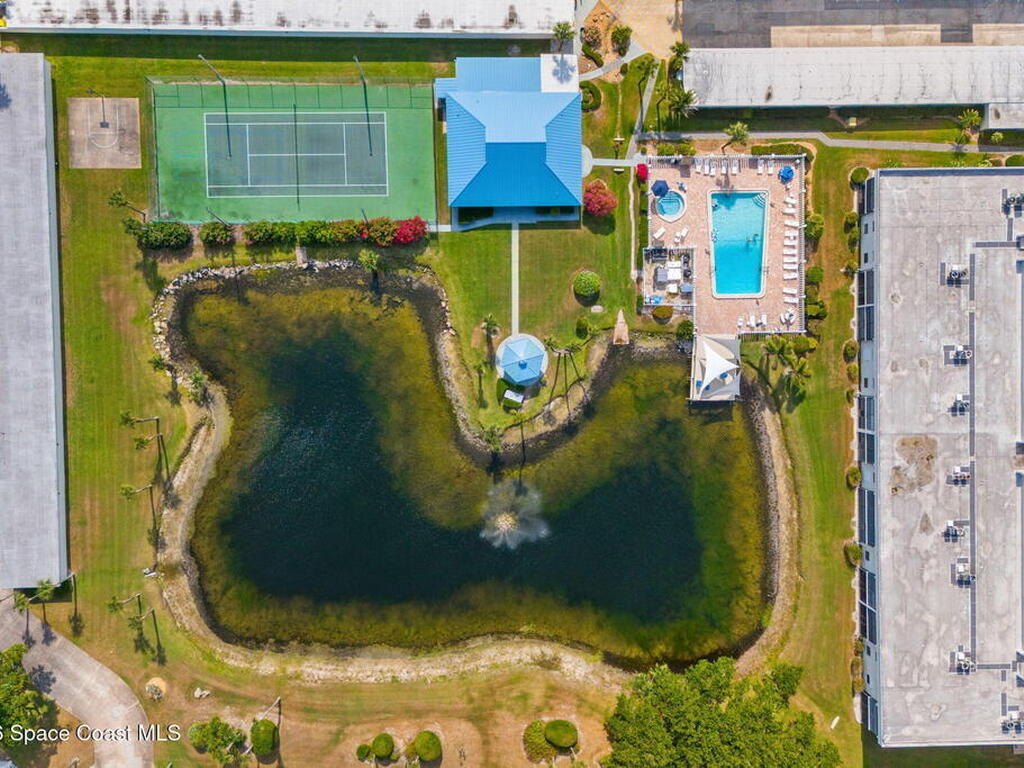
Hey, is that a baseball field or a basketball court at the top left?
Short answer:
basketball court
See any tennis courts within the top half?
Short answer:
Yes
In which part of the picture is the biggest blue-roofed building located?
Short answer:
top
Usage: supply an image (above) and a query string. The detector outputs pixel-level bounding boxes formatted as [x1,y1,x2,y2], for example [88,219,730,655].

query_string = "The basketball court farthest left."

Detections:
[68,97,141,168]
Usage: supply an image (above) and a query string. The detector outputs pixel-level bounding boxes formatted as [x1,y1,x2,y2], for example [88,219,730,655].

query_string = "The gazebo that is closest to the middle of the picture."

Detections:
[497,335,548,387]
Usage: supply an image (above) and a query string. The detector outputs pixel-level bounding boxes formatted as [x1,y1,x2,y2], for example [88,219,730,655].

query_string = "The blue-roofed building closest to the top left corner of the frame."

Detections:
[435,54,582,208]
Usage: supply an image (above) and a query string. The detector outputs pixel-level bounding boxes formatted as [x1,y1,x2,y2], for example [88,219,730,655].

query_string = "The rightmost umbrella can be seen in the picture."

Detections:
[779,167,793,181]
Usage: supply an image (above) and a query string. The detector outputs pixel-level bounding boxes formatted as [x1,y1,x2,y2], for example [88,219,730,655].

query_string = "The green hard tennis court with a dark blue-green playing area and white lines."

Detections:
[154,83,436,222]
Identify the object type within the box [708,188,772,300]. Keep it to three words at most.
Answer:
swimming pool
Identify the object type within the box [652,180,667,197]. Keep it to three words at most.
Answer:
umbrella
